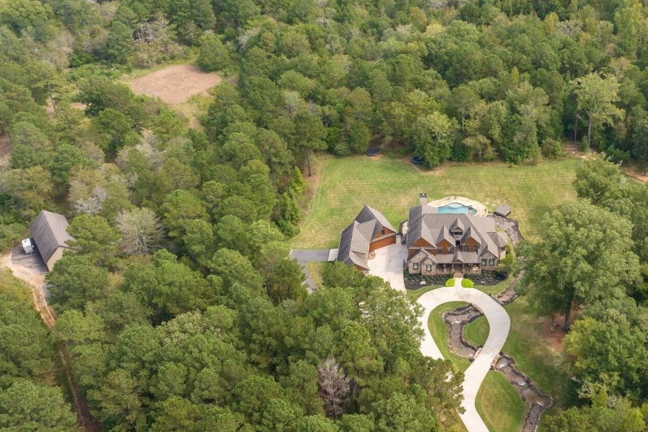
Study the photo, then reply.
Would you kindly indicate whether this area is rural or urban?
rural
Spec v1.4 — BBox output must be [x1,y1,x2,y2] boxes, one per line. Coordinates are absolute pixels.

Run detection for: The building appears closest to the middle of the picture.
[336,205,399,278]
